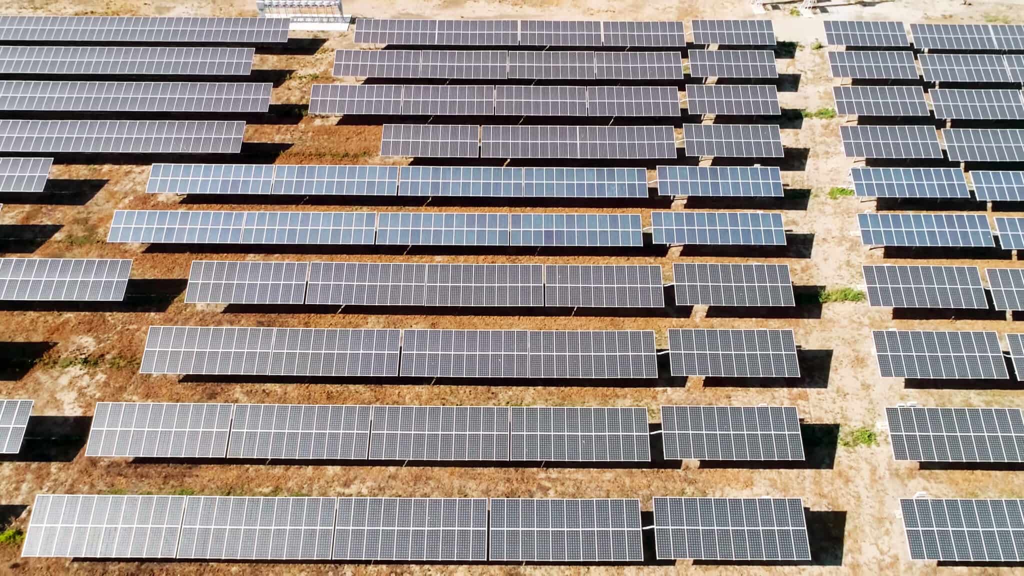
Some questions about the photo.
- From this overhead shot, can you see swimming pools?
No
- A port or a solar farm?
solar farm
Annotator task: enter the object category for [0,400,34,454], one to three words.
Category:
solar array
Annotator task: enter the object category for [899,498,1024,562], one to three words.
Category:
solar array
